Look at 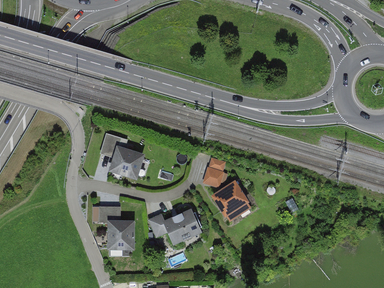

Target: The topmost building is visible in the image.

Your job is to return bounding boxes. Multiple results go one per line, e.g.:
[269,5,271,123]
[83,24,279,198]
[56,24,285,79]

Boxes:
[101,134,128,156]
